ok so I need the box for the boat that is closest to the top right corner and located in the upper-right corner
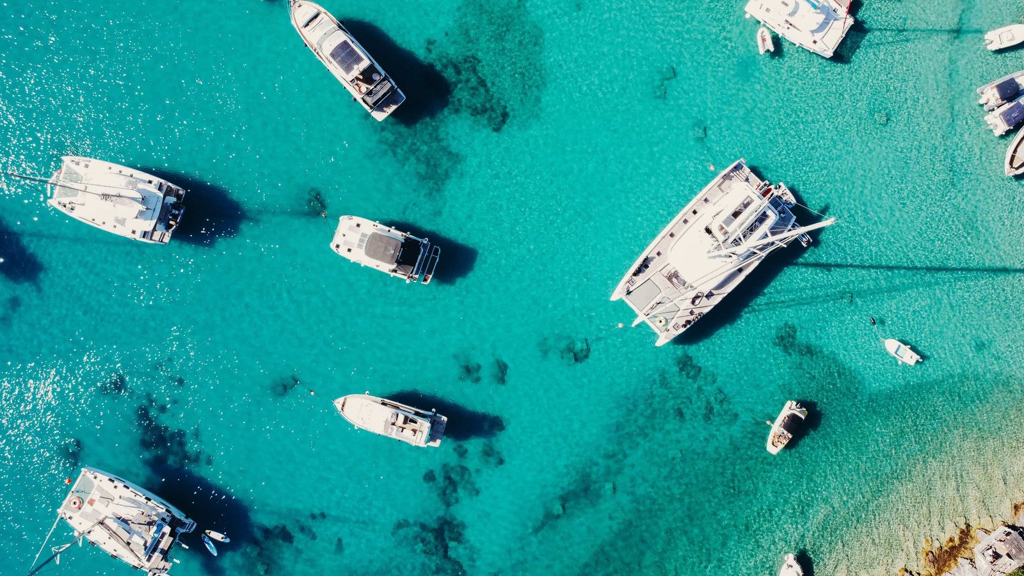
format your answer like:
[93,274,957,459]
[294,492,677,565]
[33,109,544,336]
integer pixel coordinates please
[982,24,1024,52]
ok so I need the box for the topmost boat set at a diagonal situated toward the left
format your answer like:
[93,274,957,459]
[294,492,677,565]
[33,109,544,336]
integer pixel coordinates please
[287,0,406,122]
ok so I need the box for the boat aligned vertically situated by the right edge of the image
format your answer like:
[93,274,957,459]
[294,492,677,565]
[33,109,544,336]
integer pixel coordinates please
[1002,124,1024,176]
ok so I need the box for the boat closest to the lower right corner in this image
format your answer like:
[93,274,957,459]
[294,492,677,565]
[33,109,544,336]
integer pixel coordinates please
[779,553,804,576]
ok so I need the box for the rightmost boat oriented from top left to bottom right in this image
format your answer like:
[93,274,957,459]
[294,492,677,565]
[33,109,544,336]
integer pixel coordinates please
[875,325,923,366]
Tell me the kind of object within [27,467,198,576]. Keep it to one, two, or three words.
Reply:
boat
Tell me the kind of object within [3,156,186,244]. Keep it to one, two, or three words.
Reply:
boat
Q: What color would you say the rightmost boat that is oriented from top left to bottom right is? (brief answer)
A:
white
